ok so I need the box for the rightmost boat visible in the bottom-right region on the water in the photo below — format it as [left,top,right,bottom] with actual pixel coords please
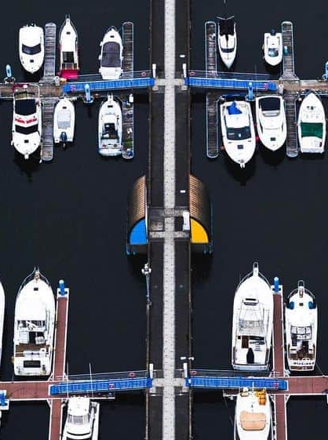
[285,284,318,378]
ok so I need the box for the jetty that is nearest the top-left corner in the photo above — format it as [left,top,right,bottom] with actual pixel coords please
[33,23,63,84]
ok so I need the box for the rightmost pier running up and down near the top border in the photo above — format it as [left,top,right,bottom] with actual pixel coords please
[274,22,302,79]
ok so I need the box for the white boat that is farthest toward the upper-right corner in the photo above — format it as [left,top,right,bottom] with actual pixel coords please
[264,30,281,64]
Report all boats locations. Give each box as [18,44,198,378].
[11,80,41,157]
[264,30,281,64]
[54,97,78,145]
[221,95,257,167]
[99,27,123,81]
[297,90,326,150]
[233,266,274,378]
[14,267,56,389]
[59,391,96,440]
[217,0,237,78]
[258,93,287,151]
[285,284,318,378]
[234,392,273,440]
[98,98,122,156]
[59,17,78,78]
[20,23,47,82]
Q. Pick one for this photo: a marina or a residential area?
marina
